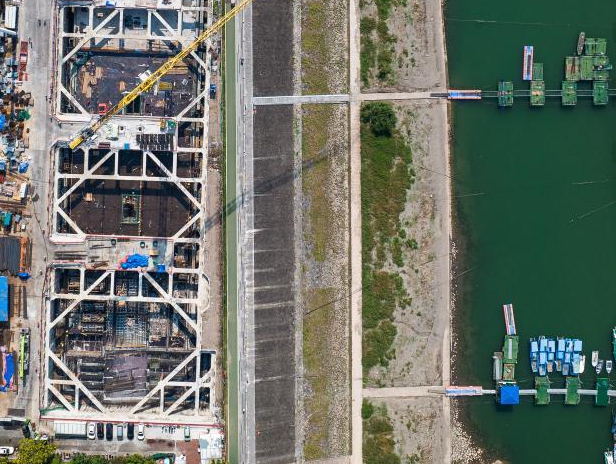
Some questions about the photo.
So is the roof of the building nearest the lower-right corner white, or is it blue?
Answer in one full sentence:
In this view, the roof of the building nearest the lower-right corner is blue.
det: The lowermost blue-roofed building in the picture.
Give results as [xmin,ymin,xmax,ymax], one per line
[498,385,519,406]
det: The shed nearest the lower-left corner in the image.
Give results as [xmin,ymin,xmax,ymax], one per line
[55,418,88,437]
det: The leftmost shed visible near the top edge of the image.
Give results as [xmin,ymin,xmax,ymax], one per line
[5,6,19,29]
